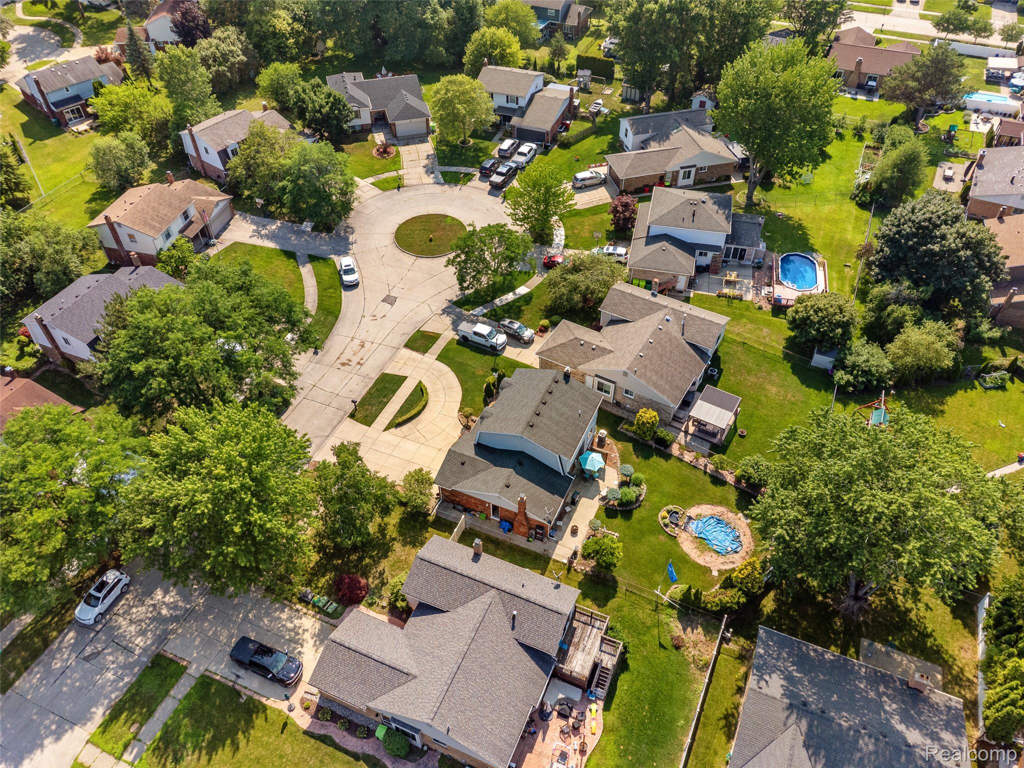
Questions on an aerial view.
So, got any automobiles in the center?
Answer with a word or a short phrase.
Yes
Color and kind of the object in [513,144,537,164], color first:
white vehicle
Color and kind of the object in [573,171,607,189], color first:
gray car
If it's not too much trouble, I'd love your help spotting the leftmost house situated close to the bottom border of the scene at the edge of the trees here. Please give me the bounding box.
[307,529,582,768]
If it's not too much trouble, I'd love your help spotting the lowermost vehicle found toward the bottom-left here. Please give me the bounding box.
[226,645,302,693]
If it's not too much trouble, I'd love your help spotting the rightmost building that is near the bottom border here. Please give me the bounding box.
[728,625,980,768]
